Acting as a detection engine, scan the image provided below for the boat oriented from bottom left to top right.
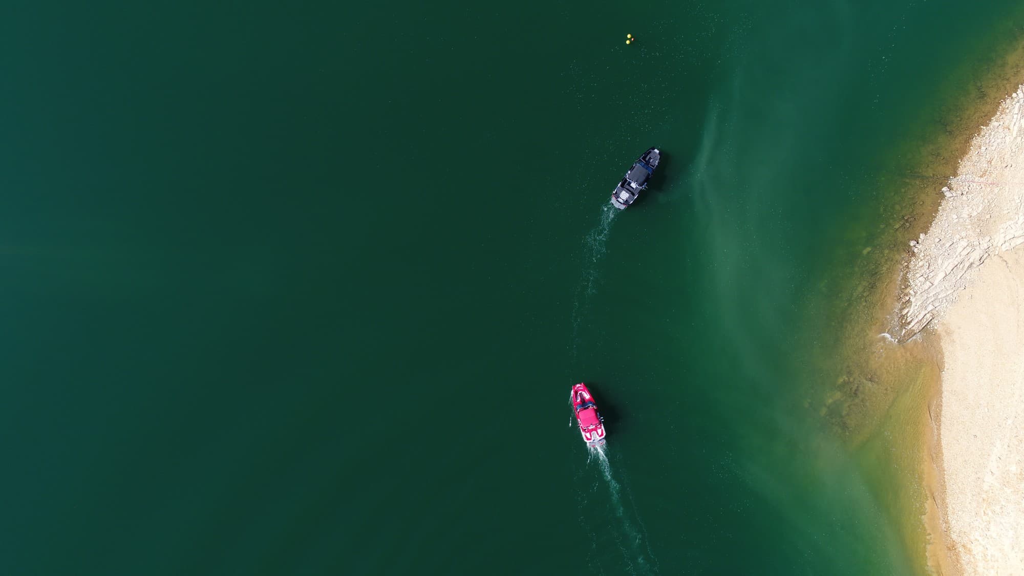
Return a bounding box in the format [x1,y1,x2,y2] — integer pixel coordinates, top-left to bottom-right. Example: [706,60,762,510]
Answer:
[611,147,659,209]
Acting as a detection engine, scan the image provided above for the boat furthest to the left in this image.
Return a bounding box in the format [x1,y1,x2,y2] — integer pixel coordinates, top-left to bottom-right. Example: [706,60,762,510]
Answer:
[573,382,606,447]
